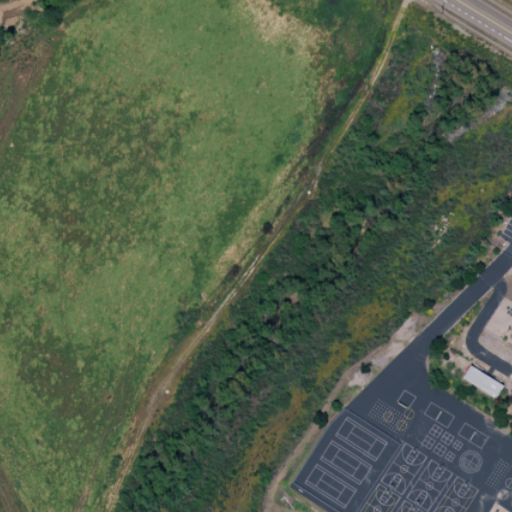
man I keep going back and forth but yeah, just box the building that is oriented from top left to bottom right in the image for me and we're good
[464,366,504,398]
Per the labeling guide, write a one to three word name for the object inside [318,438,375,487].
tennis court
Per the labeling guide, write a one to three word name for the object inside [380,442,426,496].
basketball court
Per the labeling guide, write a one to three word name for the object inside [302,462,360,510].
tennis court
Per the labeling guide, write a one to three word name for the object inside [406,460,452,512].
basketball court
